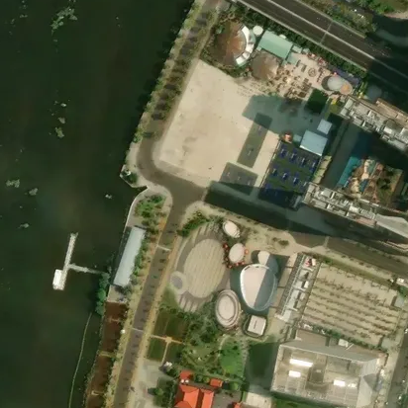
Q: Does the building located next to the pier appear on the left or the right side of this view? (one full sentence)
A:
The building located next to the pier is on the left side of the image.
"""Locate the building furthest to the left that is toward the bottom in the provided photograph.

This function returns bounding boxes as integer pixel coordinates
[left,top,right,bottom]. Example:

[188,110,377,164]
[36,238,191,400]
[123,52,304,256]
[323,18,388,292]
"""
[114,227,148,289]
